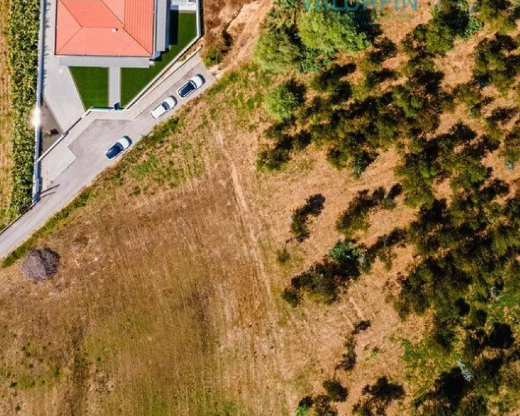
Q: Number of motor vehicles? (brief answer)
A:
3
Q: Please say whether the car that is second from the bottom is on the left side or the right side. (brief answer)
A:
left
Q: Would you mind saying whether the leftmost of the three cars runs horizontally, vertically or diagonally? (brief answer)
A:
diagonally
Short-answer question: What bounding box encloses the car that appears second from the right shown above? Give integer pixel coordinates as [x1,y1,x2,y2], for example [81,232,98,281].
[149,95,176,119]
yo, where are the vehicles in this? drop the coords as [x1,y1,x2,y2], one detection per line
[104,136,133,159]
[177,74,204,98]
[149,95,176,119]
